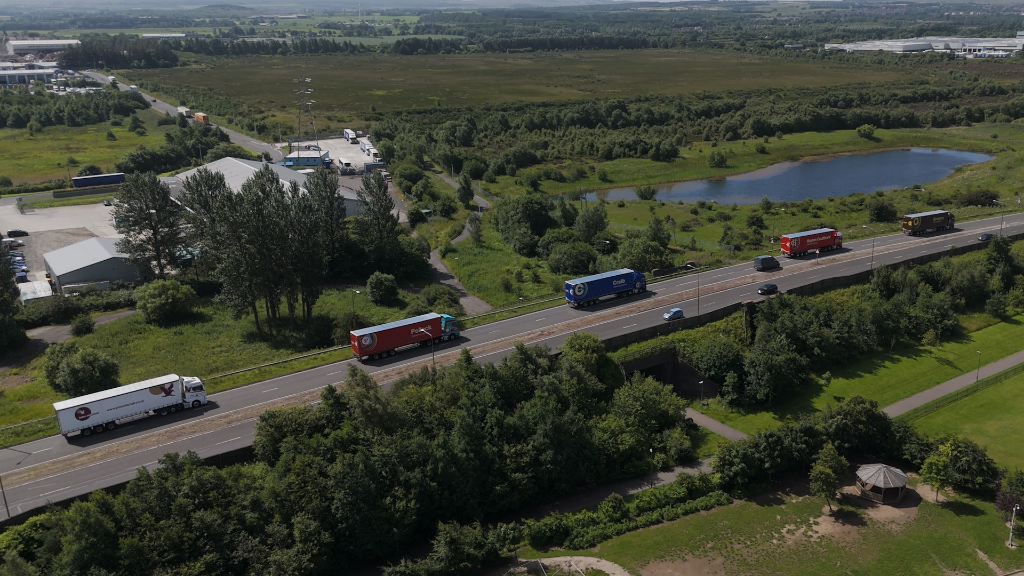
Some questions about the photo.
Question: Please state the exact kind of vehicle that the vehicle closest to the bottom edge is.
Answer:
truck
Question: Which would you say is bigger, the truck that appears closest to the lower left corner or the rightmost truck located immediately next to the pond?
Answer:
the truck that appears closest to the lower left corner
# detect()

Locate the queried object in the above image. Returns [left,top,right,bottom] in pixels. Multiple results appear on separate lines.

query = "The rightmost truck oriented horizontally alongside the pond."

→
[901,210,958,235]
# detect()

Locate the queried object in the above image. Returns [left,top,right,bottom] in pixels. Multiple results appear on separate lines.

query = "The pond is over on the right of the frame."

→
[570,149,989,203]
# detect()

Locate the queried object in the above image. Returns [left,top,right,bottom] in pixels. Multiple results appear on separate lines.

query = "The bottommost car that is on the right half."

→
[662,307,686,321]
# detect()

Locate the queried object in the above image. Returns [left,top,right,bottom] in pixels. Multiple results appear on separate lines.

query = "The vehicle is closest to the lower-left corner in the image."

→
[53,375,206,438]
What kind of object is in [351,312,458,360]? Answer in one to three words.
truck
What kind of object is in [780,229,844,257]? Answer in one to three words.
truck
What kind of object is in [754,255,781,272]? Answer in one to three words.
vehicle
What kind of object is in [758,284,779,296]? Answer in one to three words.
vehicle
